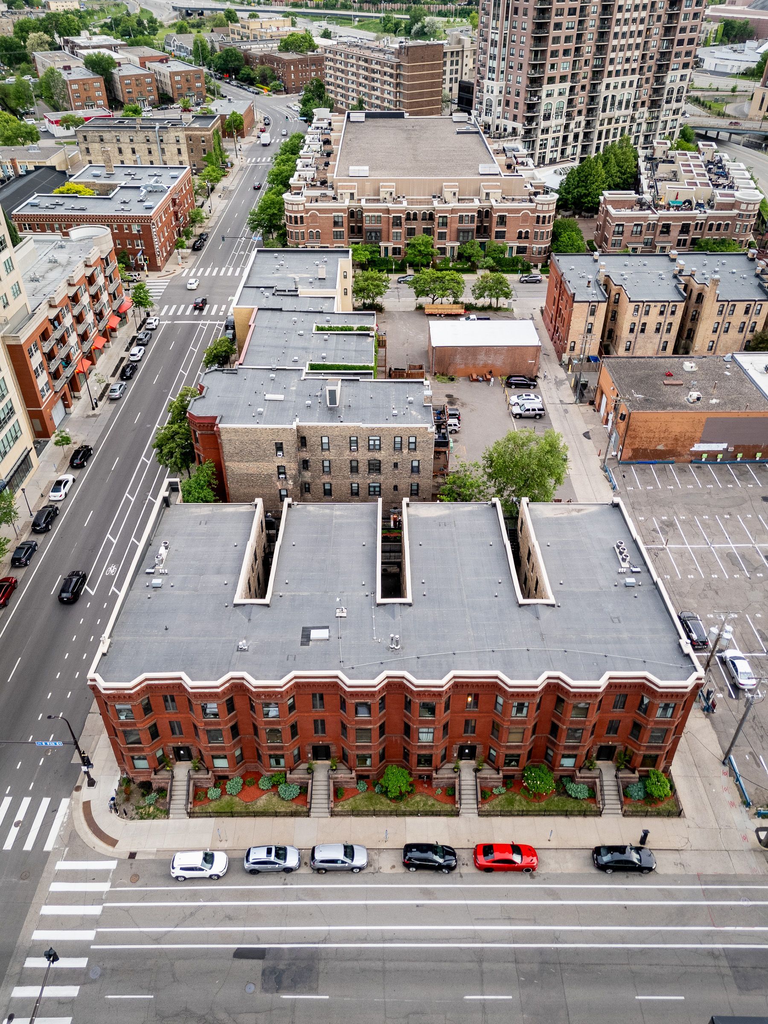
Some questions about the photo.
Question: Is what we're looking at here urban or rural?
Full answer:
It looks urban.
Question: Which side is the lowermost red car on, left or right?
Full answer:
It is on the right.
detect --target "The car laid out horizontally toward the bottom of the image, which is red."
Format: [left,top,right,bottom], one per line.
[470,844,538,877]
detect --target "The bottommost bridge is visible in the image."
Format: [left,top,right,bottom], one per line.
[687,111,768,147]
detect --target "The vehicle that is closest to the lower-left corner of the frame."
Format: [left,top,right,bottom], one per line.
[169,847,233,881]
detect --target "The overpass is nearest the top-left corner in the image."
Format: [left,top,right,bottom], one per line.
[172,0,452,26]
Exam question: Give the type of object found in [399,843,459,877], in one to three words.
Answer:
car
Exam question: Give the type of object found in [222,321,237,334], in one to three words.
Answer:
vehicle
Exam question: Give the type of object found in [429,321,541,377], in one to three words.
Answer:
building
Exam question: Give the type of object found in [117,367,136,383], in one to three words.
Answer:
car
